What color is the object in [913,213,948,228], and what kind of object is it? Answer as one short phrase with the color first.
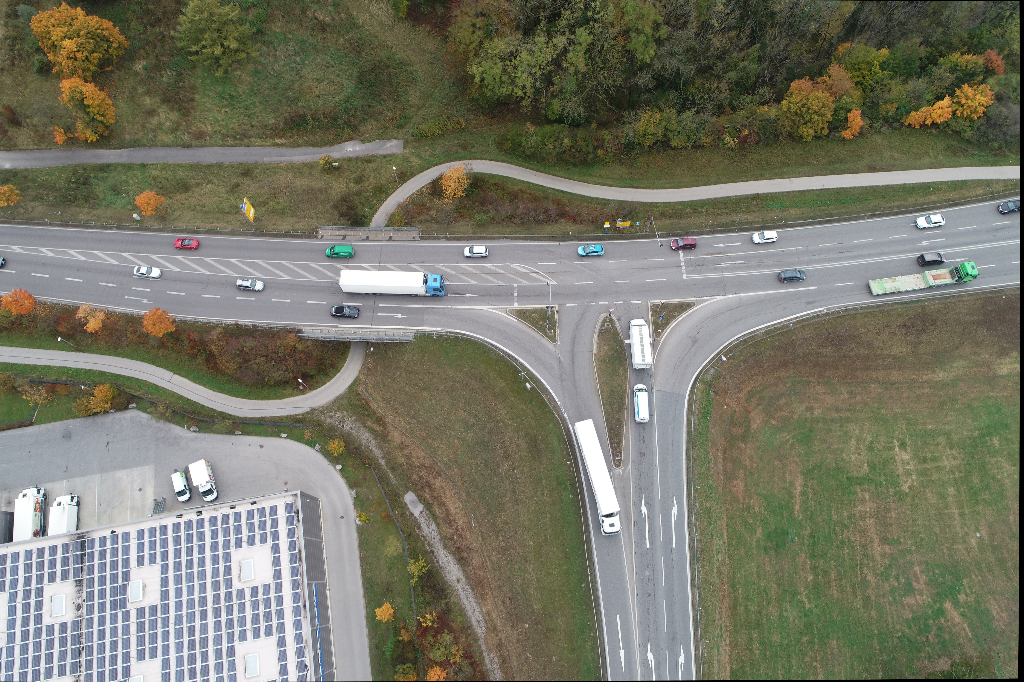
white car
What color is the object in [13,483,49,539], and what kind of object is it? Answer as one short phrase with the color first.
white truck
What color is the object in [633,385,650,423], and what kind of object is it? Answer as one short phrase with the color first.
white vehicle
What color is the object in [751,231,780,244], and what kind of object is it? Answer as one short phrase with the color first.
white vehicle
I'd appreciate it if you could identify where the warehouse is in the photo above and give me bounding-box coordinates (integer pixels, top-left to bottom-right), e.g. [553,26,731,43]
[0,491,336,682]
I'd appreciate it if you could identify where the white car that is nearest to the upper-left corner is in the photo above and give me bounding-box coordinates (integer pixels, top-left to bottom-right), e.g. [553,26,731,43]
[132,266,163,279]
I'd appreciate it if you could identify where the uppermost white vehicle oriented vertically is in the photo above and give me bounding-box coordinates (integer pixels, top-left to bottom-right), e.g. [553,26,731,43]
[631,319,651,371]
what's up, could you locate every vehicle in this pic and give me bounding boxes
[573,420,621,534]
[868,262,980,295]
[169,472,191,503]
[464,245,489,258]
[751,231,780,244]
[340,271,445,295]
[777,269,806,283]
[631,319,651,371]
[132,266,163,279]
[330,305,360,318]
[174,237,201,250]
[325,244,356,258]
[995,200,1024,215]
[915,252,946,267]
[13,483,49,539]
[0,257,7,269]
[633,385,650,423]
[186,462,218,504]
[669,237,697,251]
[48,489,82,533]
[578,244,605,257]
[913,213,948,228]
[234,278,266,292]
